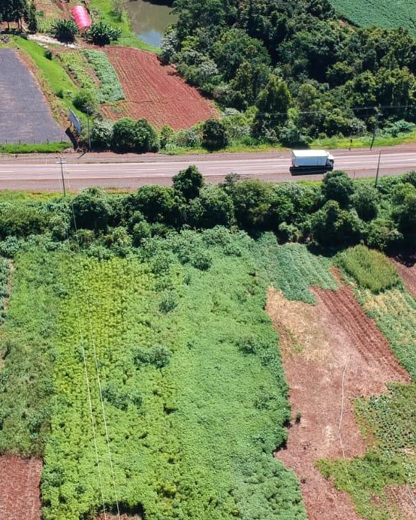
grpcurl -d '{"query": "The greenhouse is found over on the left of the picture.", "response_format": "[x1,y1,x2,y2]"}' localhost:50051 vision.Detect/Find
[71,3,93,31]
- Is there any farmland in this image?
Yes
